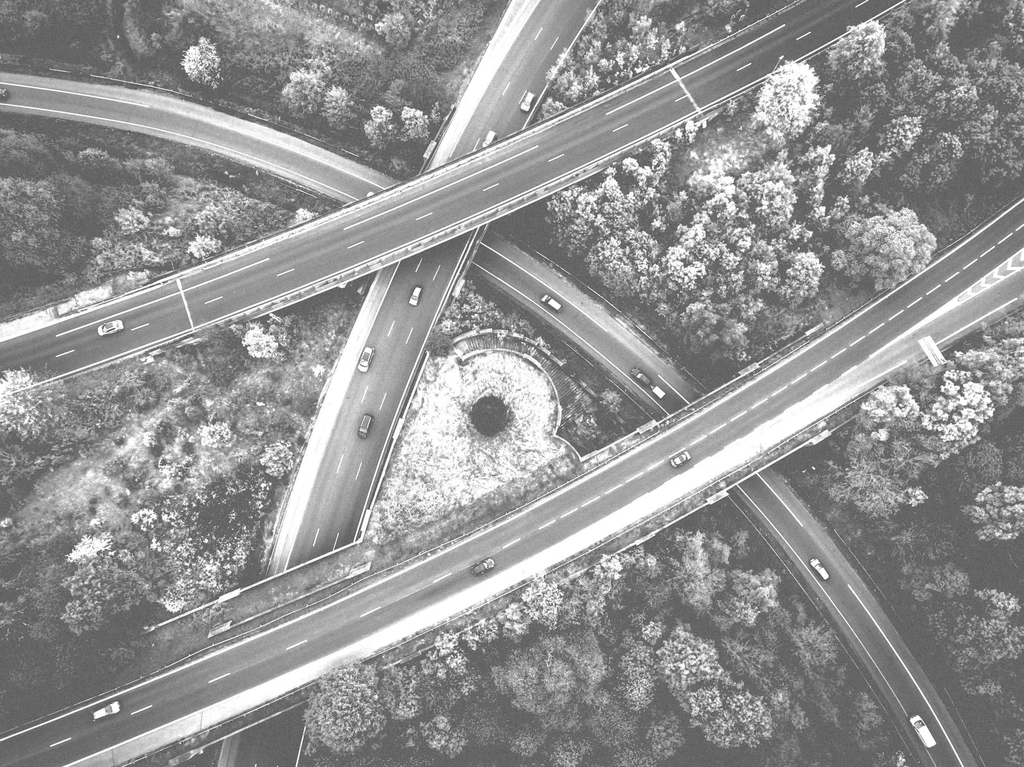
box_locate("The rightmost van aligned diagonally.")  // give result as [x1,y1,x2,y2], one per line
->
[907,714,940,752]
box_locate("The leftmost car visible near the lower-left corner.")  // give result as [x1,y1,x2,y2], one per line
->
[90,699,123,724]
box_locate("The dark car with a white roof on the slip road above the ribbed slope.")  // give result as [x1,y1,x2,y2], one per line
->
[540,294,564,313]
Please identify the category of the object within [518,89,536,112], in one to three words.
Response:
car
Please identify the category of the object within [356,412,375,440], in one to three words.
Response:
car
